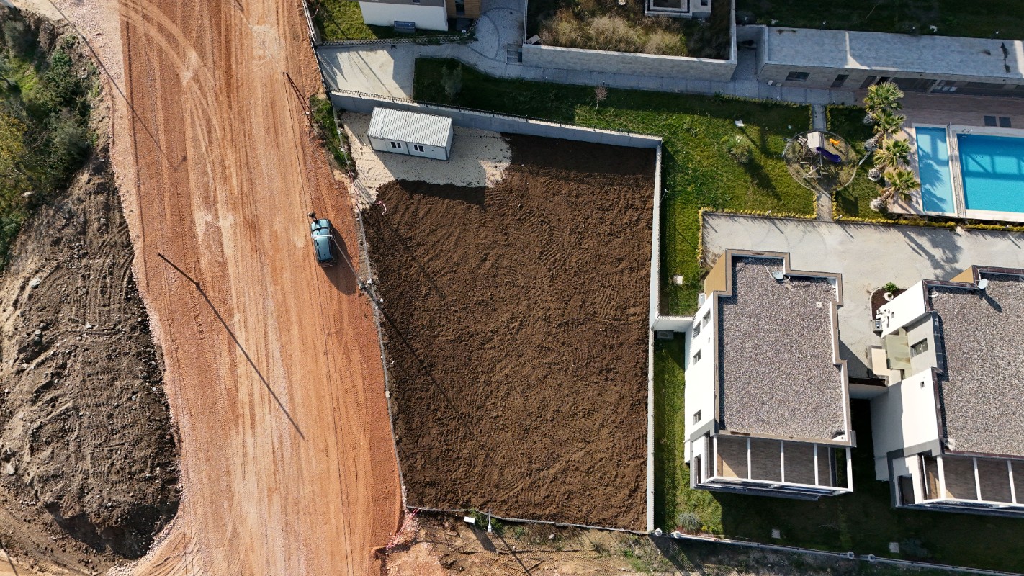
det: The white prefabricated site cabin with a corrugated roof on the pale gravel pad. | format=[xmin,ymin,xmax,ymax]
[367,105,453,160]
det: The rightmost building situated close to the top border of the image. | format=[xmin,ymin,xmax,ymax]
[756,26,1024,98]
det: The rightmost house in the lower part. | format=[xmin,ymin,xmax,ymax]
[865,265,1024,517]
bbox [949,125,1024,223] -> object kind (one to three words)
swimming pool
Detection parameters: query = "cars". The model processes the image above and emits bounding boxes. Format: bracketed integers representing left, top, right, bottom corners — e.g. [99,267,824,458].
[306,219,339,268]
